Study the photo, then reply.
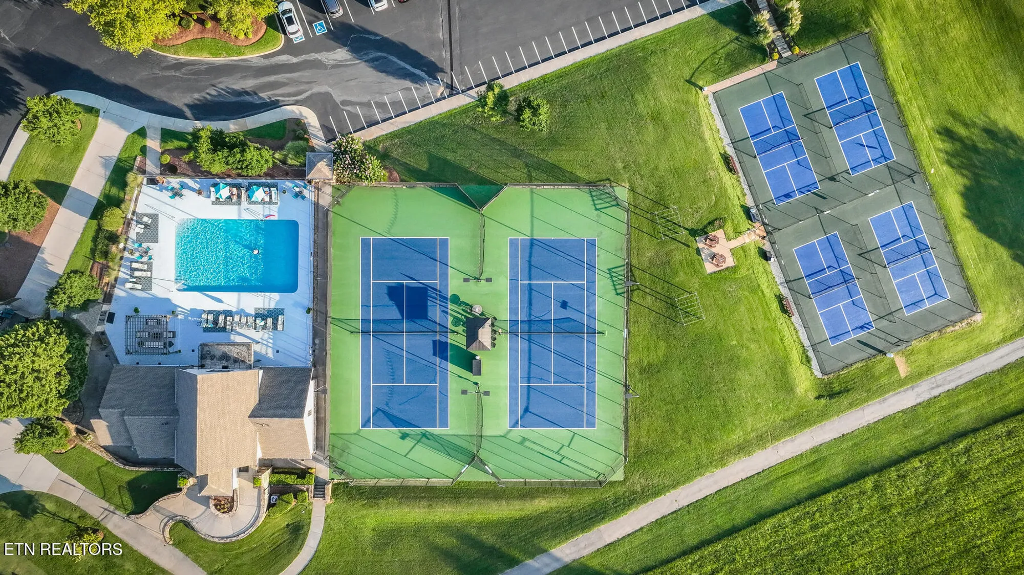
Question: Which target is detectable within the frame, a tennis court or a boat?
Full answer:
The image shows a tennis court.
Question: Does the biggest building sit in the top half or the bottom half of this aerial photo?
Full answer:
The biggest building sits in the bottom half of the picture.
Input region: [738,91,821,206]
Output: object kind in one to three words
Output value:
sports court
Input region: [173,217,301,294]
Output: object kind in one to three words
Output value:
swimming pool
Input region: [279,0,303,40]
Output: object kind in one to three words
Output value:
car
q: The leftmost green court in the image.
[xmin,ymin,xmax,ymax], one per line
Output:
[330,185,479,480]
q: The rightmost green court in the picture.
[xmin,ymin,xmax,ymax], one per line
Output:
[479,186,627,480]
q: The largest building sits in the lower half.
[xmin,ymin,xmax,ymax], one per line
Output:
[90,364,319,497]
